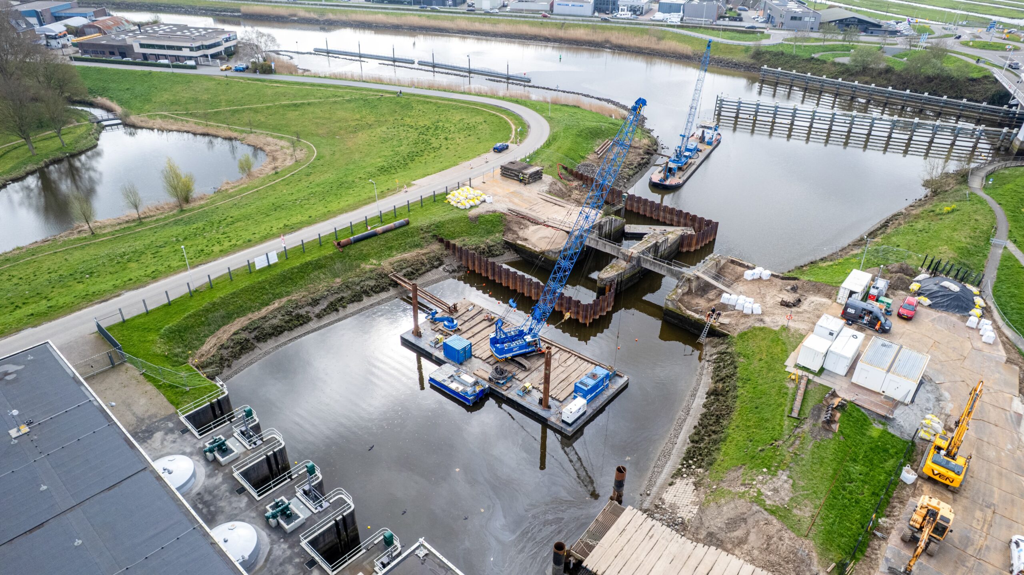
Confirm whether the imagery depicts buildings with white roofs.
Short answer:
Yes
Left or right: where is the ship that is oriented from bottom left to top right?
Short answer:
right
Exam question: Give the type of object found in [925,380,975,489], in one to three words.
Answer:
work vehicle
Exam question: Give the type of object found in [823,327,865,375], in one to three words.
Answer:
shipping container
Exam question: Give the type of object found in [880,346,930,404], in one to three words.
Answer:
building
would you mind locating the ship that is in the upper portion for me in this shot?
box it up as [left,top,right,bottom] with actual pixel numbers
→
[648,113,731,191]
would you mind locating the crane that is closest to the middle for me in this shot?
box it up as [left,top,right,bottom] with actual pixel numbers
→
[483,95,654,370]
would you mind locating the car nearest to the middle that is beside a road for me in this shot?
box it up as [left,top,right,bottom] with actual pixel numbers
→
[491,139,511,151]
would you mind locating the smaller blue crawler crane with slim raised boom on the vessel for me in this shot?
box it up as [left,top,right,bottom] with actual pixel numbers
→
[665,37,712,162]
